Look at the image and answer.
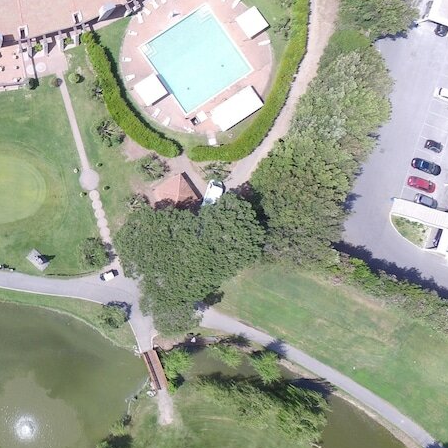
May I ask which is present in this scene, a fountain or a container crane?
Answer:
fountain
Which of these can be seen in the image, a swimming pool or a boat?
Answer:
swimming pool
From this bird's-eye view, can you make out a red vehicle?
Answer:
Yes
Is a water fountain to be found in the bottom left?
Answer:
Yes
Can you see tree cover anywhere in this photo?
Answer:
Yes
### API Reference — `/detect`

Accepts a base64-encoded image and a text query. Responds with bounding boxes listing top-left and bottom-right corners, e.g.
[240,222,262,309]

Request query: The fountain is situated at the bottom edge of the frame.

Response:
[8,416,37,440]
